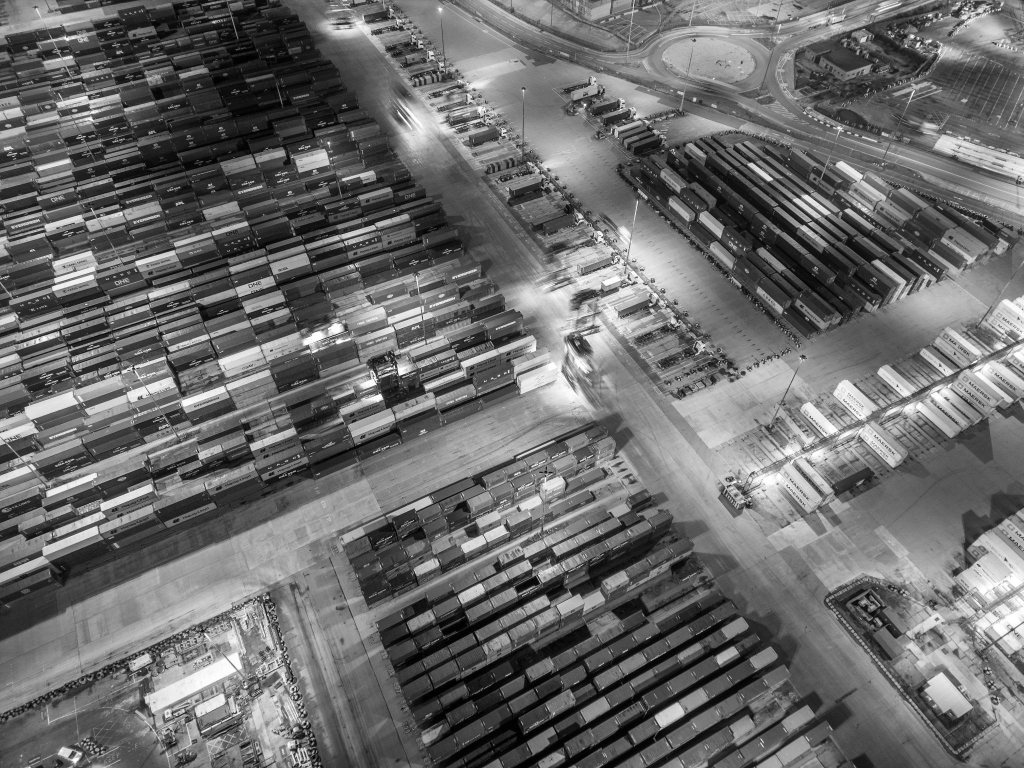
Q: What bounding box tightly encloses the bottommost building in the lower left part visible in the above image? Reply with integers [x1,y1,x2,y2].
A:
[196,694,235,735]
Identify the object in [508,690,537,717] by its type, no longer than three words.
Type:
shipping container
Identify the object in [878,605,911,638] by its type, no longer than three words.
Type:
building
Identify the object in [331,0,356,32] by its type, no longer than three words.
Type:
work vehicle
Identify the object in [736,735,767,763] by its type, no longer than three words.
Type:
shipping container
